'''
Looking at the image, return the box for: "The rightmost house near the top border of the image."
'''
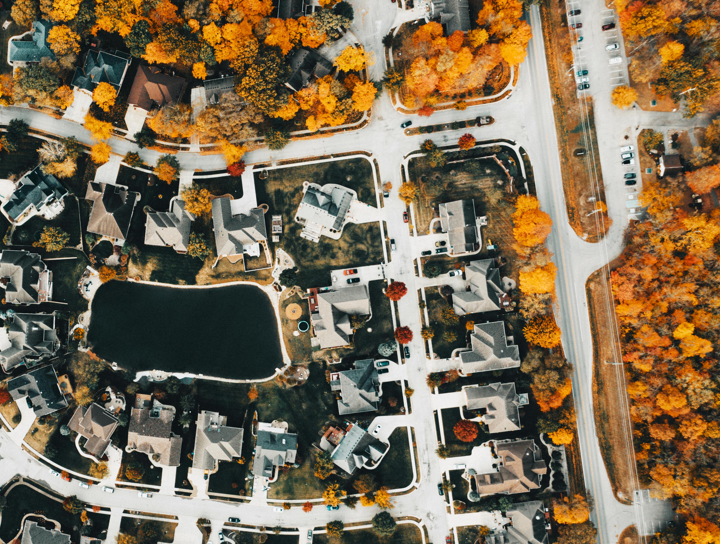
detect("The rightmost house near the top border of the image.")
[428,0,471,36]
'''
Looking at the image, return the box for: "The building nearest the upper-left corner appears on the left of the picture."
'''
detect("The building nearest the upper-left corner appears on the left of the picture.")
[10,20,58,64]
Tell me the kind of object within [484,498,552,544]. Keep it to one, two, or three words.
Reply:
house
